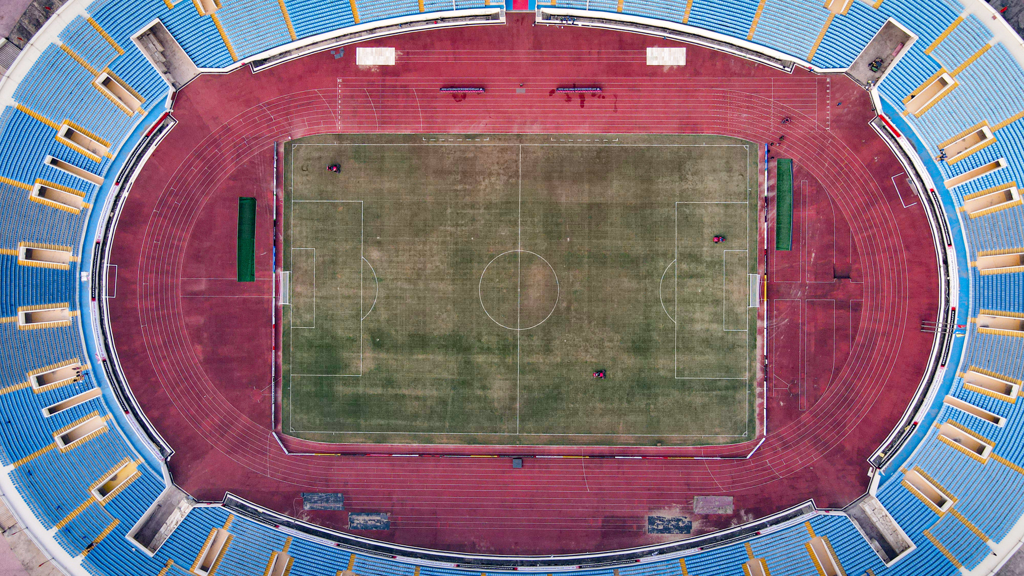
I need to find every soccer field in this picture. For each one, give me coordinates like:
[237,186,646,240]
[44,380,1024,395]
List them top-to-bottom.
[281,132,759,447]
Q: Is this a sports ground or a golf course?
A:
sports ground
